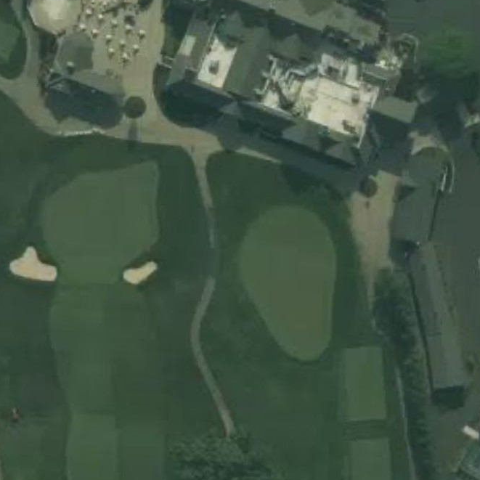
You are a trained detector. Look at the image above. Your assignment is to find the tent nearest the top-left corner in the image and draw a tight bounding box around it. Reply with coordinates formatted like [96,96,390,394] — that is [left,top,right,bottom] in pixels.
[30,0,82,37]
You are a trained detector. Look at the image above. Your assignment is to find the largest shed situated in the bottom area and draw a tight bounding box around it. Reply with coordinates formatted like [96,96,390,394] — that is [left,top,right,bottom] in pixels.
[406,242,465,391]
